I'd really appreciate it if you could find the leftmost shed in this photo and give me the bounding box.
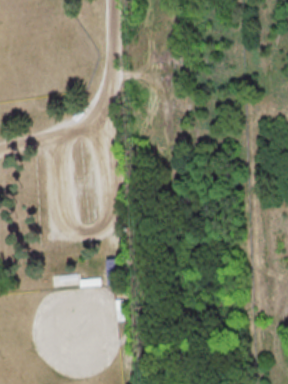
[52,274,80,288]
